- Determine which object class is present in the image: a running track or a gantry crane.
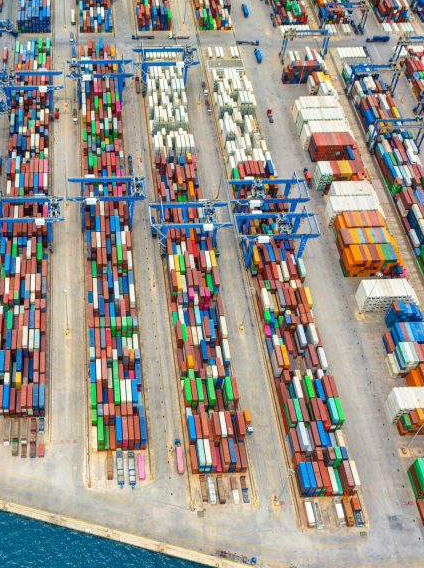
gantry crane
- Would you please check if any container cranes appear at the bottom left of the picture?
No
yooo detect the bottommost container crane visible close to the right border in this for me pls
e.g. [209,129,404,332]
[367,118,424,160]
